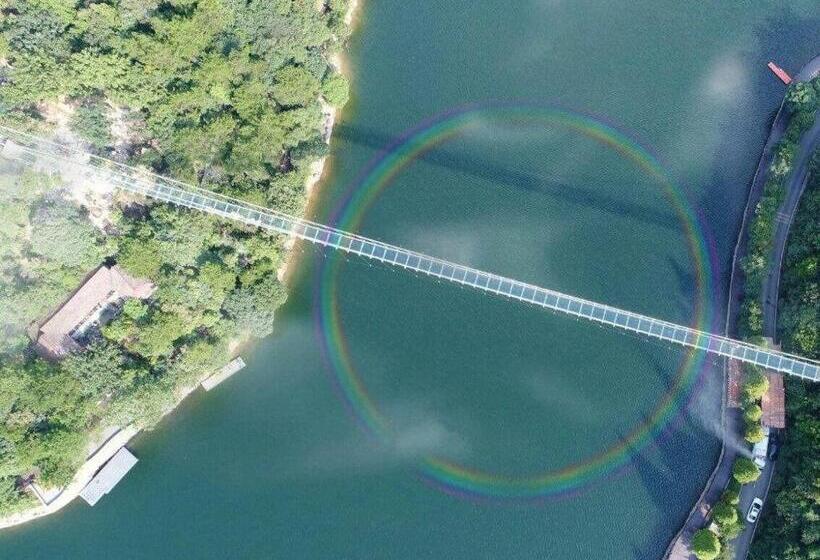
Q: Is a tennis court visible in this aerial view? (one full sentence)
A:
No, no tennis court is visible in the view.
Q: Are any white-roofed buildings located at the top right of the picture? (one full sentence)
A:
No, the scene shows no white-roofed building at the top right of the picture.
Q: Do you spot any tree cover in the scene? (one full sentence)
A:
Yes, tree cover can be seen from above here.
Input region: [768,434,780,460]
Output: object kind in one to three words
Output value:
vehicle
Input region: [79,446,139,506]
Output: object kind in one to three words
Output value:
building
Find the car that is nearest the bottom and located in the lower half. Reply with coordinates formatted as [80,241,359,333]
[745,497,764,523]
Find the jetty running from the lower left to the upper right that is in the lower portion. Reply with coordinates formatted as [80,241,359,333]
[202,357,247,392]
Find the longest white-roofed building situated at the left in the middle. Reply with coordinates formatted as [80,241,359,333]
[37,259,157,361]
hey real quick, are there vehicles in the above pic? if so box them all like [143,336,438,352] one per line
[768,434,780,460]
[745,497,764,523]
[750,429,770,467]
